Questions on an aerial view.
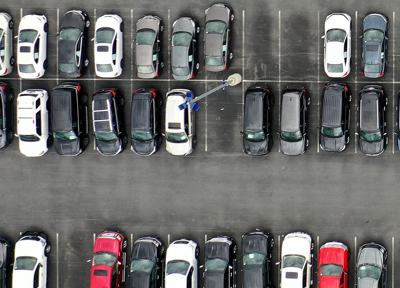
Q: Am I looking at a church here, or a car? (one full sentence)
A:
The one in the frame is a car.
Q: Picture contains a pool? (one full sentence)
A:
No, the picture doesn't show any pool.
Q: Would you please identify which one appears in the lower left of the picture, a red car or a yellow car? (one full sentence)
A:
The one visible in the lower left of the picture is a red car.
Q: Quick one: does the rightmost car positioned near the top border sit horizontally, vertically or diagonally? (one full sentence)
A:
What the image shows is the rightmost car positioned near the top border lying vertically.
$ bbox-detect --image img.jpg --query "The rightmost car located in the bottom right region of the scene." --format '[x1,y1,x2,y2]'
[353,243,387,288]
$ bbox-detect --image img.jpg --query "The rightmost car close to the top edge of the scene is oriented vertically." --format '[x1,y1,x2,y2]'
[359,13,391,78]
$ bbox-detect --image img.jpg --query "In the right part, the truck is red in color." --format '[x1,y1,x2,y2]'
[315,241,350,288]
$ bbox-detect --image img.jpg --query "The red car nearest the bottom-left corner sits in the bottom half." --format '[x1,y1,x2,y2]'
[84,231,125,288]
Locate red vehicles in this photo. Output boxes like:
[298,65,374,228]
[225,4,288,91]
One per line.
[84,231,125,288]
[315,241,350,288]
